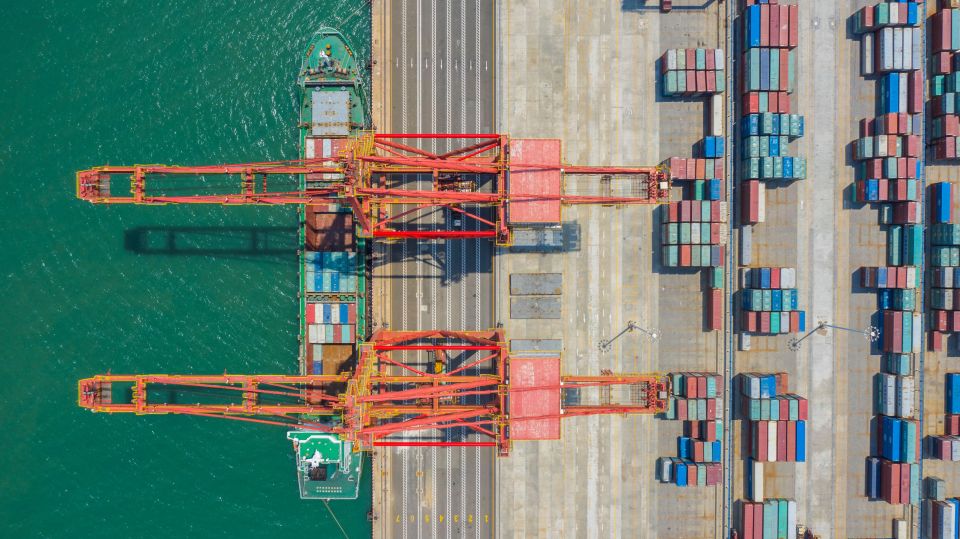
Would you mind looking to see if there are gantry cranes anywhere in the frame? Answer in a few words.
Yes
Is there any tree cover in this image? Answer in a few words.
No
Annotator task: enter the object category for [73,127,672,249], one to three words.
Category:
container crane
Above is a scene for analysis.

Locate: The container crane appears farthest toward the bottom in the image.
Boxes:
[73,322,672,454]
